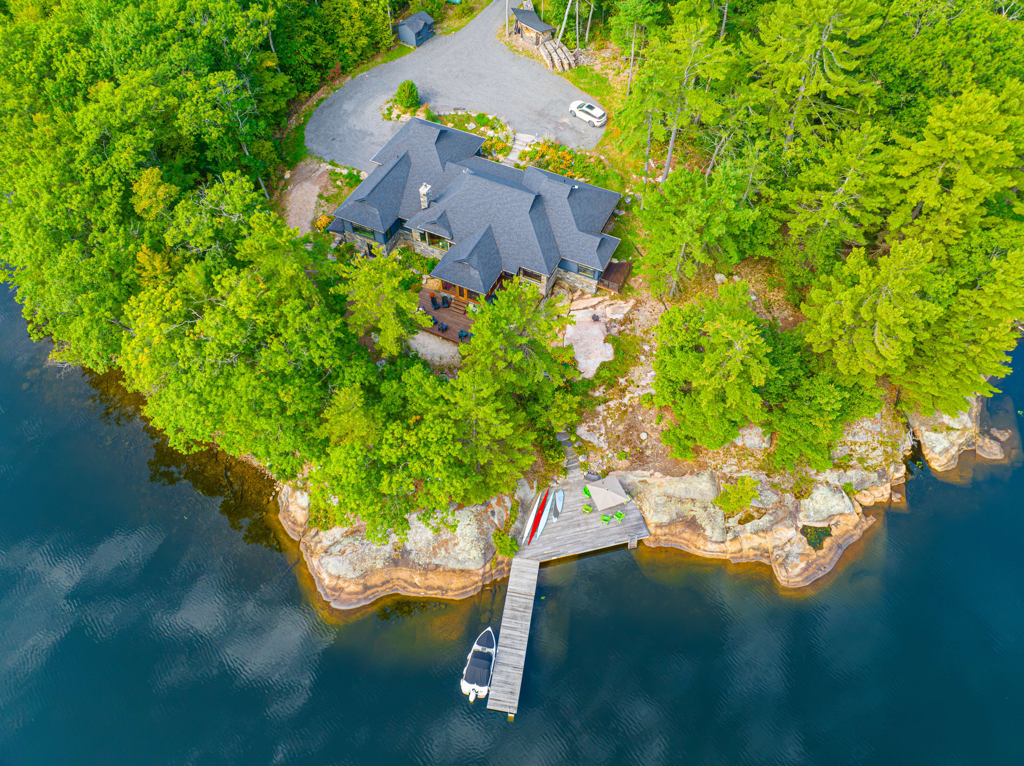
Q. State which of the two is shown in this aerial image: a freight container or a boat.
boat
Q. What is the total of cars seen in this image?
1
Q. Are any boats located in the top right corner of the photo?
No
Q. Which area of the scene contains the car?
top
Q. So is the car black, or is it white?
white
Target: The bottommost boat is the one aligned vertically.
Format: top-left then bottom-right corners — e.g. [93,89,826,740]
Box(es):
[460,628,497,707]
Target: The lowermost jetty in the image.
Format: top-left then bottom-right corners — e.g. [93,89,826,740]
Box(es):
[487,590,535,715]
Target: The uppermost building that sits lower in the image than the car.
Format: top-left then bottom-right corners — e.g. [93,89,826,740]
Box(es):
[324,117,624,313]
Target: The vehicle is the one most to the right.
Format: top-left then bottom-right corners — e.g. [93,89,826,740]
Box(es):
[570,100,609,124]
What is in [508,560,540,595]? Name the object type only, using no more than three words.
pier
